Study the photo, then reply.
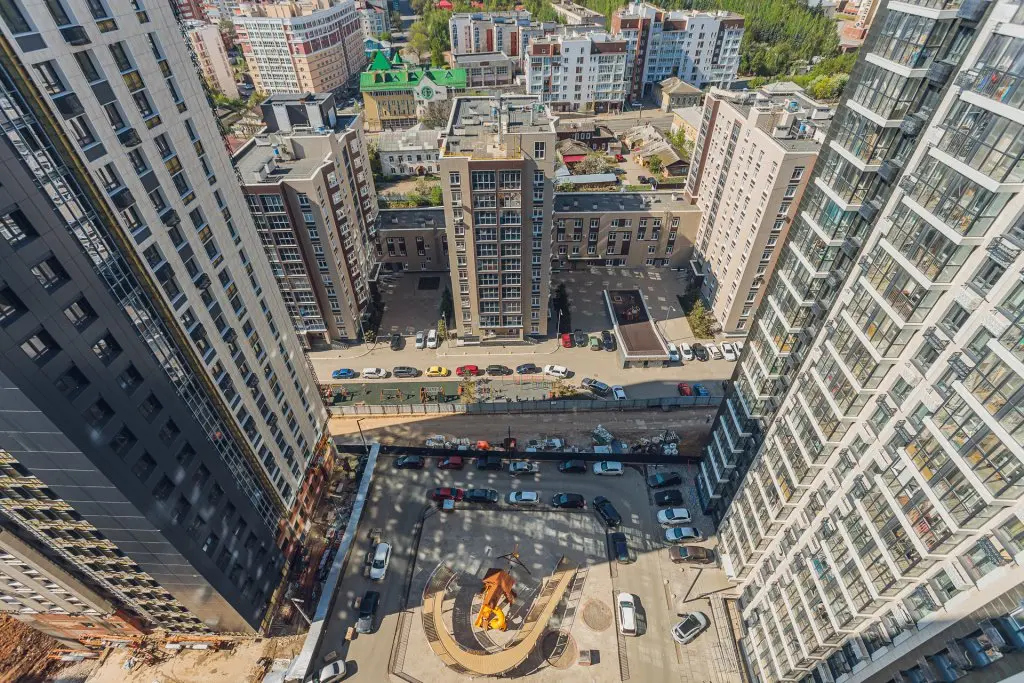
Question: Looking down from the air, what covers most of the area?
buildings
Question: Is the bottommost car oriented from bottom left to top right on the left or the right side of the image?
left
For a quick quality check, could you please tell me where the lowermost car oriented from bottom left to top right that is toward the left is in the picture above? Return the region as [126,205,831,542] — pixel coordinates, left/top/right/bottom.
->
[314,650,353,683]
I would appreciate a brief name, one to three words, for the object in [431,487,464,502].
car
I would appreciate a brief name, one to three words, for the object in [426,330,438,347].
vehicle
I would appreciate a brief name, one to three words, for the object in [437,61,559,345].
building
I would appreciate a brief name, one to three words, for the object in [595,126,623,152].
house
